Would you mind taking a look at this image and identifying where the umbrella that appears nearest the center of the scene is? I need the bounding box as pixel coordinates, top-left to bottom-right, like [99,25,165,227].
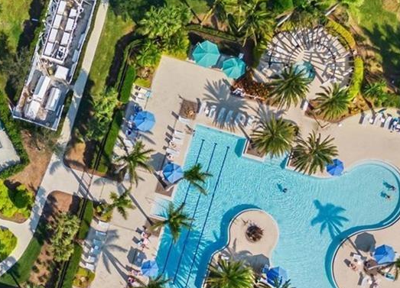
[162,164,181,183]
